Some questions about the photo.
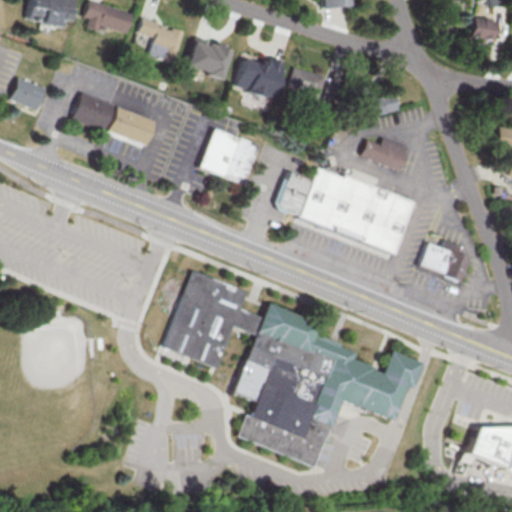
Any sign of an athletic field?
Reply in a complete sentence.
Yes, this view includes an athletic field.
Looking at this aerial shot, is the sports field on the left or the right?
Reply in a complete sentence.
The sports field is on the left side of the image.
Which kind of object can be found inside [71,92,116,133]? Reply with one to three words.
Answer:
building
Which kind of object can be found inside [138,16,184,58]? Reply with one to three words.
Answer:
house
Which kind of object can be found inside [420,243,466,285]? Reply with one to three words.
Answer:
building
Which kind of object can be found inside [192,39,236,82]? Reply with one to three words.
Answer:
house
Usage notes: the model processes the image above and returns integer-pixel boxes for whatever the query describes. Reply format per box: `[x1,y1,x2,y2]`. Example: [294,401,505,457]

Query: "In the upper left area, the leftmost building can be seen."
[10,78,46,112]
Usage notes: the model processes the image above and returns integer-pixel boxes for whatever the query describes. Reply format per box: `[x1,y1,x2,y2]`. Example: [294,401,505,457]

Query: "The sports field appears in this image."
[2,315,96,450]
